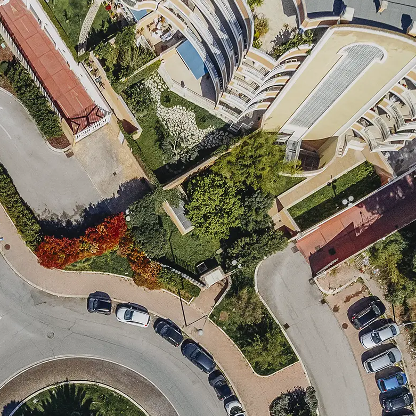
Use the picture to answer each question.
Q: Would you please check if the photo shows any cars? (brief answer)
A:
Yes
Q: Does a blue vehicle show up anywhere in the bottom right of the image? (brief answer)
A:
Yes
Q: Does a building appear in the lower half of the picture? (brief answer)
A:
Yes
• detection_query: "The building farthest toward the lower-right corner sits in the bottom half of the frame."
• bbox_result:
[197,262,228,290]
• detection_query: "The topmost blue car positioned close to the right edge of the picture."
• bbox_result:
[373,370,409,392]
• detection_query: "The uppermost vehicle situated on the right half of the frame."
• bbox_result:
[347,301,387,329]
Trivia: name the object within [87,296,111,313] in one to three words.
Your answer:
car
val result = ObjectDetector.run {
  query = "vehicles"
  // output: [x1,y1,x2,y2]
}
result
[179,341,217,374]
[113,305,152,328]
[357,321,400,350]
[87,296,111,313]
[224,399,245,416]
[208,367,235,401]
[378,391,414,411]
[347,301,387,329]
[373,370,409,392]
[151,319,187,349]
[360,346,402,374]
